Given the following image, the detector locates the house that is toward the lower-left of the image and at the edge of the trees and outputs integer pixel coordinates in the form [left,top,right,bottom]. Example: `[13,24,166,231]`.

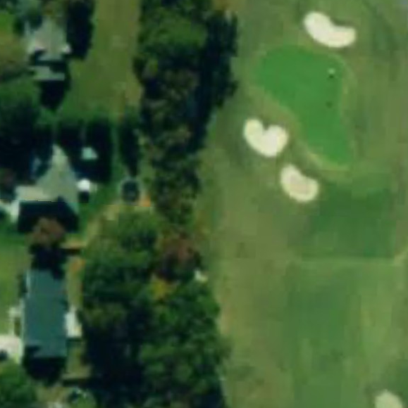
[23,267,80,357]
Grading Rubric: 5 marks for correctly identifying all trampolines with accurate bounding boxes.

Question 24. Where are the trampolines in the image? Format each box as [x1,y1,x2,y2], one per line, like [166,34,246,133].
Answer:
[121,179,139,197]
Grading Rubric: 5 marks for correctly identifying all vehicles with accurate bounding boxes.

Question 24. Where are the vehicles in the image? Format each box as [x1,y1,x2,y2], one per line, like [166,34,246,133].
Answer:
[0,207,5,216]
[0,349,8,357]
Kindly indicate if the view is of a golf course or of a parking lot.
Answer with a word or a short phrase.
golf course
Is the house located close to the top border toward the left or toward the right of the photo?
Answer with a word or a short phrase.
left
